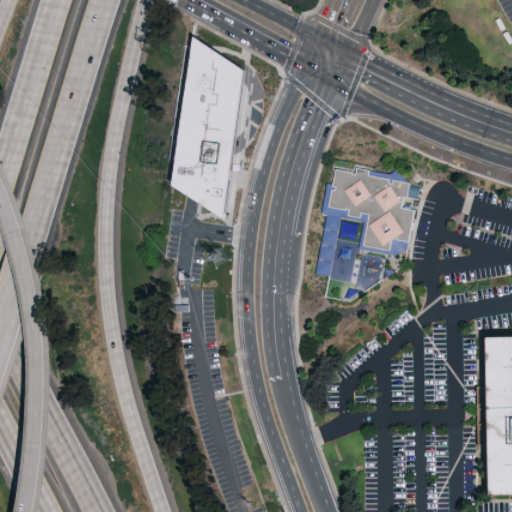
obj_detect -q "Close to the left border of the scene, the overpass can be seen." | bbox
[0,172,48,512]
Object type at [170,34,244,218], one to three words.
building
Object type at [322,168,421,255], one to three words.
building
